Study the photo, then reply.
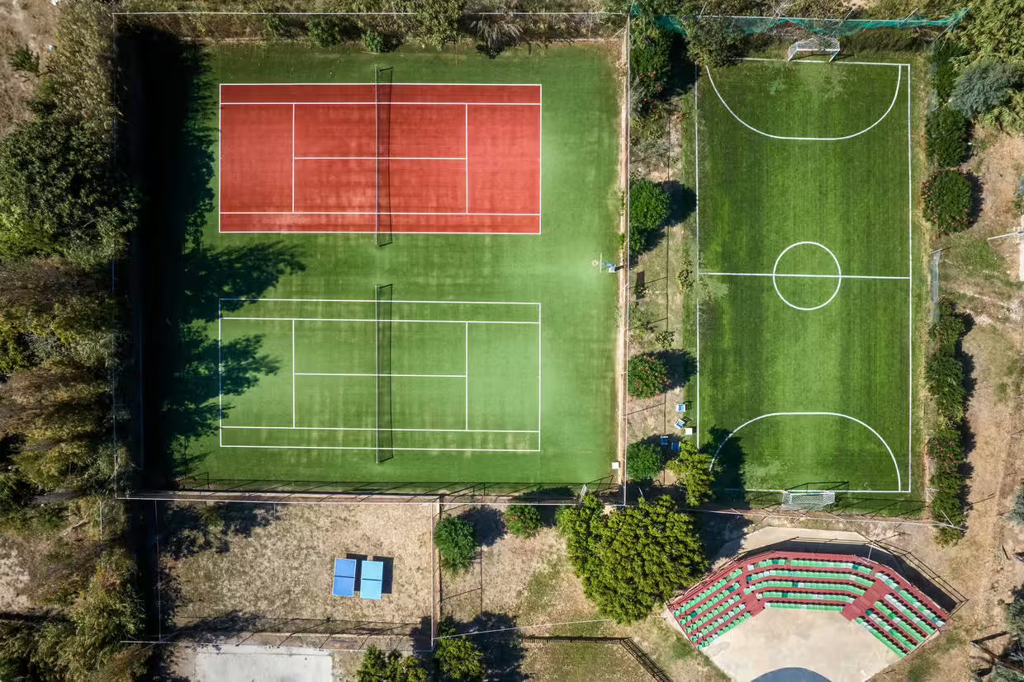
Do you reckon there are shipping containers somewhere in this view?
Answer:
No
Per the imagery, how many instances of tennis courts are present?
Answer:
2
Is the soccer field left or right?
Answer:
right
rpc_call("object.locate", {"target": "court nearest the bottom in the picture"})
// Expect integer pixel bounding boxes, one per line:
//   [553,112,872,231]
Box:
[218,298,543,452]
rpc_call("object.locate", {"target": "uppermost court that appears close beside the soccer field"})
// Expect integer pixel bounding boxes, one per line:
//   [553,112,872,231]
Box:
[219,83,542,233]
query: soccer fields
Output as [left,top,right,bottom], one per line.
[682,46,927,518]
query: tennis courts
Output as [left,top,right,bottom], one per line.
[218,298,543,452]
[219,83,542,233]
